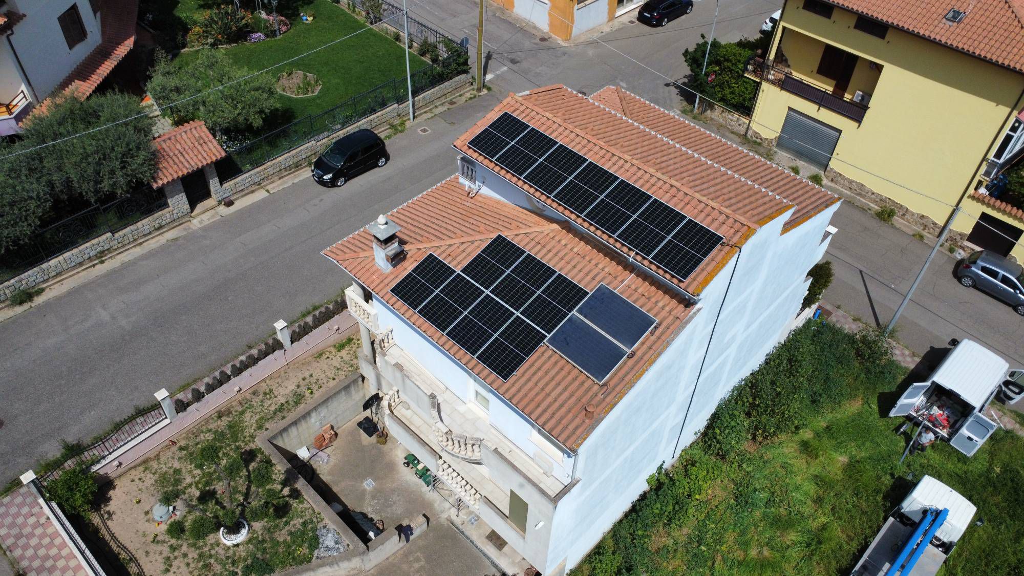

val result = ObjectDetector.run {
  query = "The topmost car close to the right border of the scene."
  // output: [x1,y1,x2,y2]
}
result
[958,246,1024,316]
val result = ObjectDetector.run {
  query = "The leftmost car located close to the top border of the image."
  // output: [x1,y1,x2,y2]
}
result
[637,0,697,28]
